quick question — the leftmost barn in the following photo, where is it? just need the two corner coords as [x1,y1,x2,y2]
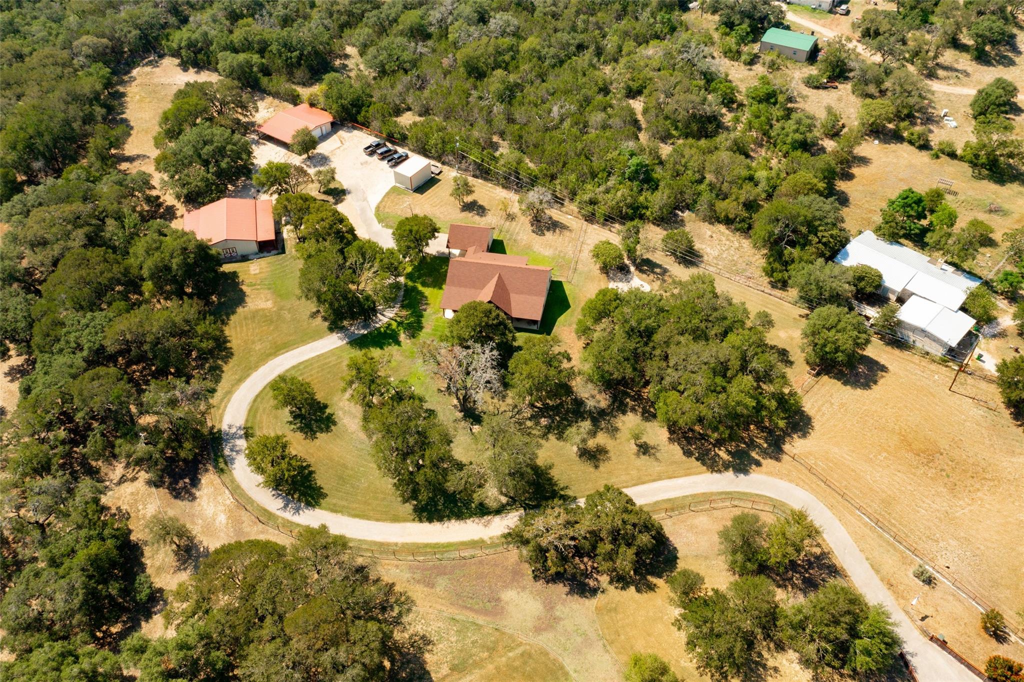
[182,198,279,263]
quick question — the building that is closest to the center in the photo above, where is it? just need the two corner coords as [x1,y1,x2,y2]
[438,221,554,330]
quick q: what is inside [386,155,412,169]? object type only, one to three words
vehicle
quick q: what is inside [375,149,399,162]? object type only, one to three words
vehicle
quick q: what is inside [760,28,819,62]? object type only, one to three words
shed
